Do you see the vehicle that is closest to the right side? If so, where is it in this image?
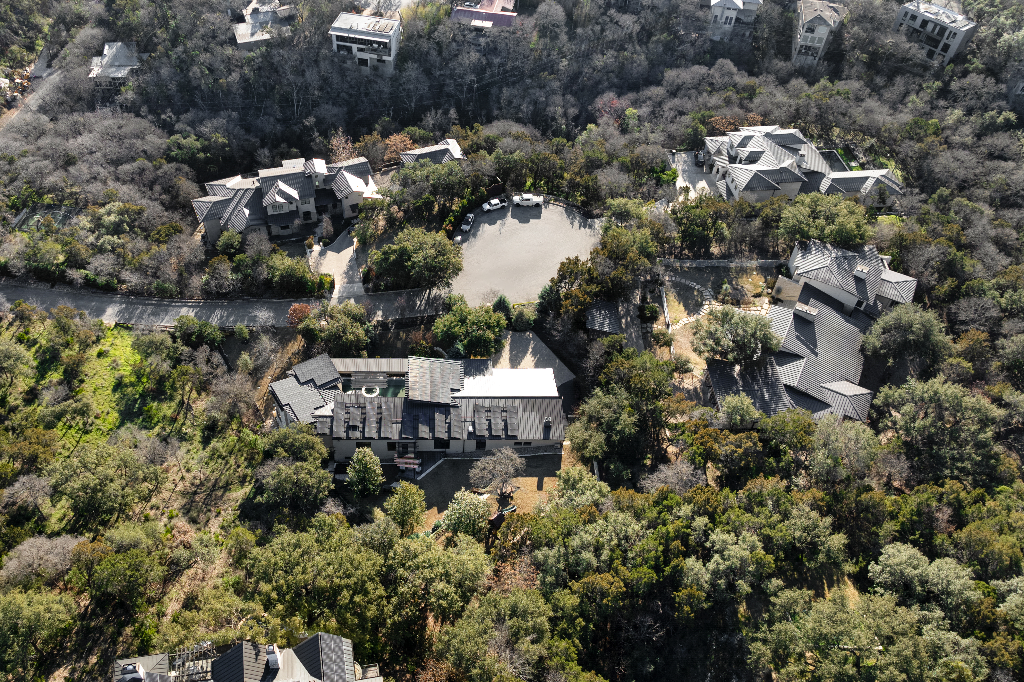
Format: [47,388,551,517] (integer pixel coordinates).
[695,148,707,166]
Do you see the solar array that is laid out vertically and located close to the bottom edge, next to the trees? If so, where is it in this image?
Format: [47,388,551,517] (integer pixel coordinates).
[321,634,347,682]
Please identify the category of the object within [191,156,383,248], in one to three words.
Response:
house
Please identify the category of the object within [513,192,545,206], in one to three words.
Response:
vehicle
